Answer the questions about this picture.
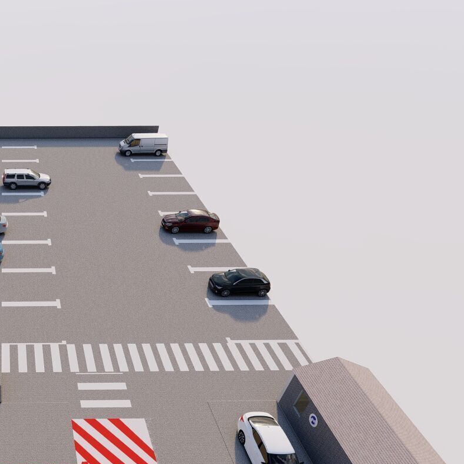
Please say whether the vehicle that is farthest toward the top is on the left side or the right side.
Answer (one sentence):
The vehicle that is farthest toward the top is on the left side of the image.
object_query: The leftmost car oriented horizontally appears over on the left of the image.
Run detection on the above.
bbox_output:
[3,167,52,190]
